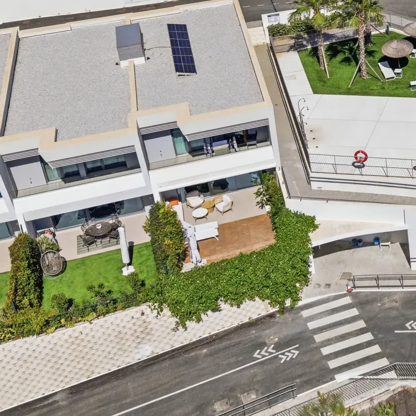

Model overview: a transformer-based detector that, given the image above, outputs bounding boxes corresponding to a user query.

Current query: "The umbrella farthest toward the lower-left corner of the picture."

[119,230,136,274]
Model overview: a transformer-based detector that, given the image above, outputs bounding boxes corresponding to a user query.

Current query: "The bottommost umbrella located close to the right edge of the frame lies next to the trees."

[381,32,416,68]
